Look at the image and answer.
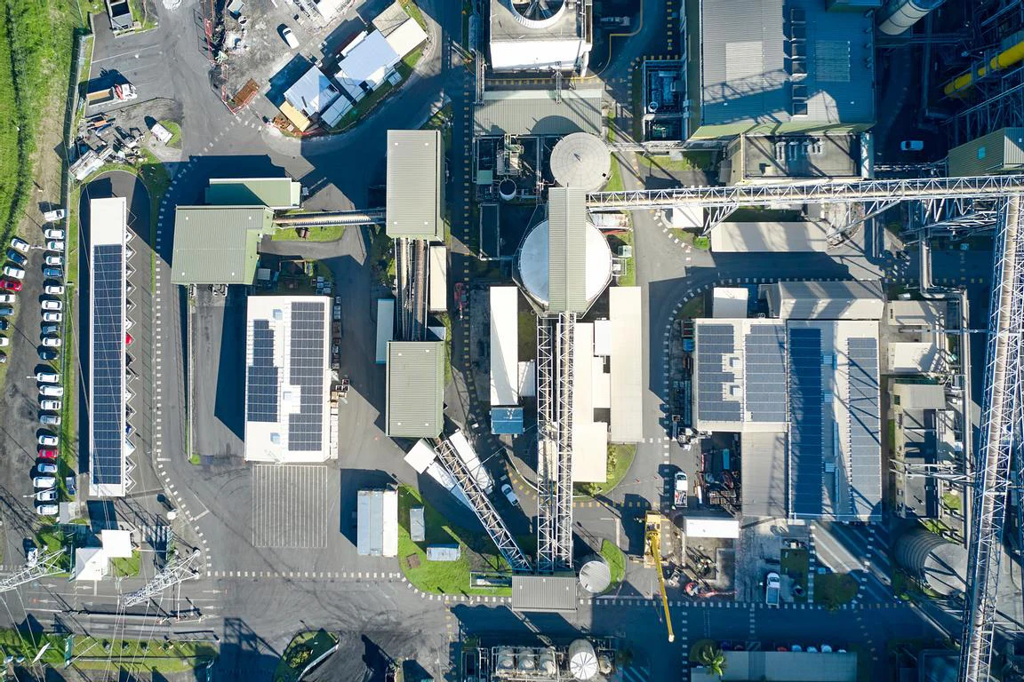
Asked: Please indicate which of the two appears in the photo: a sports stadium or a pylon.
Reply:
pylon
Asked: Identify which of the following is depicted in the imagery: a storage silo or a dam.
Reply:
storage silo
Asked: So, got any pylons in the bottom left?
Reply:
Yes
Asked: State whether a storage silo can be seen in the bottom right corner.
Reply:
Yes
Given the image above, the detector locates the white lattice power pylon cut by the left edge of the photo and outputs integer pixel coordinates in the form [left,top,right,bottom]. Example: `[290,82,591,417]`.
[0,546,67,593]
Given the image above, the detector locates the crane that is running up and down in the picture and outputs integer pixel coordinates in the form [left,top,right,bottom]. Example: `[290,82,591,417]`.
[628,513,674,641]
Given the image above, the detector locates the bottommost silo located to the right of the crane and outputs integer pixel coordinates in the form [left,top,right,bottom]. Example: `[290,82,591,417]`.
[890,529,970,593]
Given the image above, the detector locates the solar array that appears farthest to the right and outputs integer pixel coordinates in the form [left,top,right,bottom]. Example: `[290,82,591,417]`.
[848,338,880,517]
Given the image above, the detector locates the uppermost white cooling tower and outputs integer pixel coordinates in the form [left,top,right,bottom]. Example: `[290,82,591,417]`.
[490,0,596,69]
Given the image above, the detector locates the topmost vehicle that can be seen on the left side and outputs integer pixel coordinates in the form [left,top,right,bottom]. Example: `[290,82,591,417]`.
[278,24,297,48]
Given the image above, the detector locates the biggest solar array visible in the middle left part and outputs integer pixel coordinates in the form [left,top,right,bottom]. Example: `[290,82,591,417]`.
[93,245,122,484]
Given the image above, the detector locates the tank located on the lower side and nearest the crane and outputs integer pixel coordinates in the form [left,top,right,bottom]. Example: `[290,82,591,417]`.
[575,549,611,593]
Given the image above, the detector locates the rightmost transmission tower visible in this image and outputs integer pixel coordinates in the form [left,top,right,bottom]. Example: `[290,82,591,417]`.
[104,549,200,614]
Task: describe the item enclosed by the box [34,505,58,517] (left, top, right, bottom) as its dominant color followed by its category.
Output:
white vehicle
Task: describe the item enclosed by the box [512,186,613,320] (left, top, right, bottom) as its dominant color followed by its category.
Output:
white storage tank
